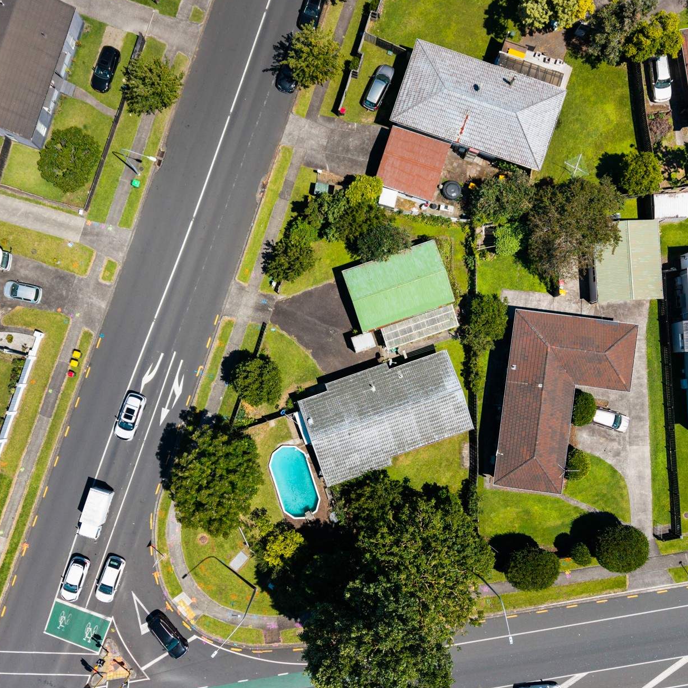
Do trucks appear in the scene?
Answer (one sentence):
Yes, there's a truck down there.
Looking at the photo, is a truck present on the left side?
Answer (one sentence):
Yes, I can see a truck on the left side.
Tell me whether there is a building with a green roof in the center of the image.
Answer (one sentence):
Yes, a building with a green roof shows up in the center of the image.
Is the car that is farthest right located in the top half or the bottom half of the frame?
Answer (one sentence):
The car that is farthest right is in the top half of the image.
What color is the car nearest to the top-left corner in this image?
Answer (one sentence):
The car nearest to the top-left corner is black.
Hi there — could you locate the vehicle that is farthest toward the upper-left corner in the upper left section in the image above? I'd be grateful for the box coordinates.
[89,44,123,96]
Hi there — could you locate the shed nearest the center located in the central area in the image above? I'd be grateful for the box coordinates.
[351,332,376,352]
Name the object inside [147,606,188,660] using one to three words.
car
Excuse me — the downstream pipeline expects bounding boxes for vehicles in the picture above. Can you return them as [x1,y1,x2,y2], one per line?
[3,278,46,305]
[362,64,393,115]
[75,477,117,537]
[114,390,149,441]
[147,606,188,660]
[89,44,123,96]
[648,55,676,105]
[0,243,17,269]
[95,553,128,602]
[60,552,94,602]
[516,679,562,688]
[584,407,630,433]
[275,59,299,96]
[296,0,325,29]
